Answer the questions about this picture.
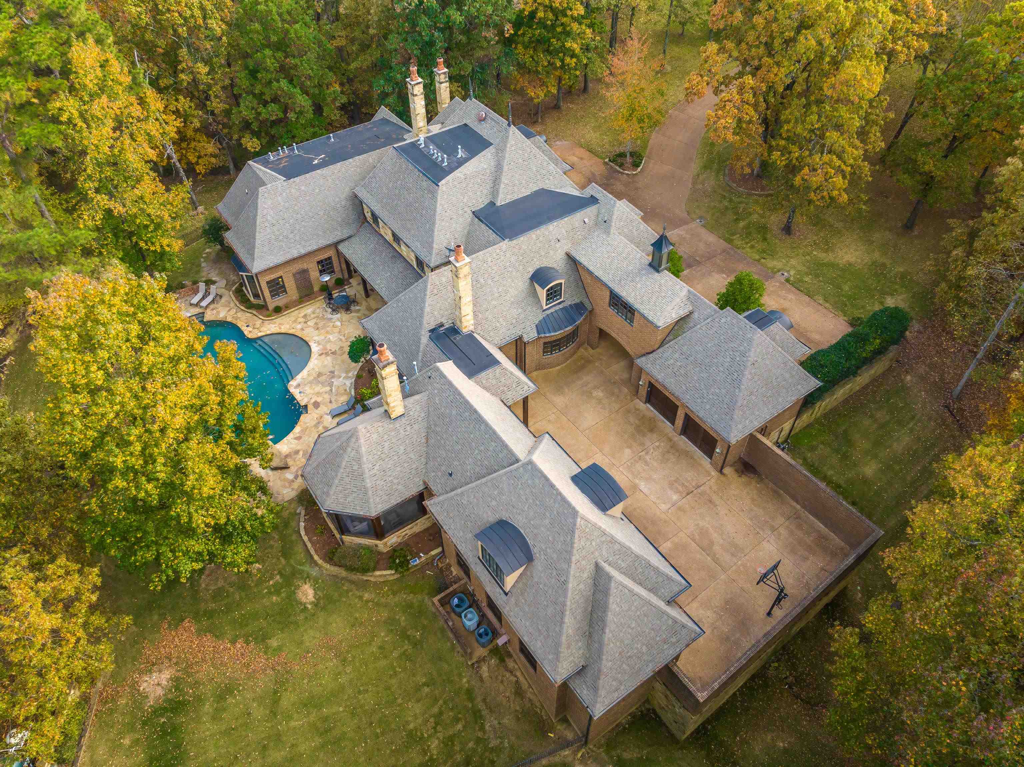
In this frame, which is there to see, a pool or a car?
pool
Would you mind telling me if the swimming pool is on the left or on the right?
left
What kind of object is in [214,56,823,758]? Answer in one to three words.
house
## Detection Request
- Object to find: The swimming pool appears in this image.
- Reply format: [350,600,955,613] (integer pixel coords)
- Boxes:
[187,313,310,443]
